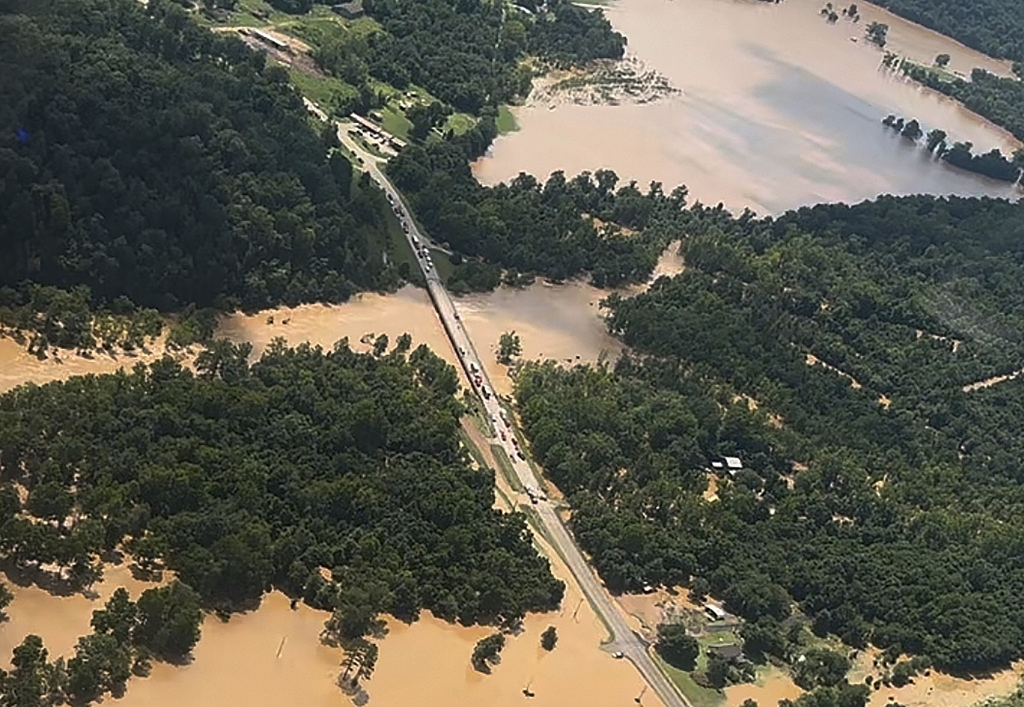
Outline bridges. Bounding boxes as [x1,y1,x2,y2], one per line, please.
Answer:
[422,273,504,401]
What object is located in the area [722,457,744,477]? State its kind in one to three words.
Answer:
building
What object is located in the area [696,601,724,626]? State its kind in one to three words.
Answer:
house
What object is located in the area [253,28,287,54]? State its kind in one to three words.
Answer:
barn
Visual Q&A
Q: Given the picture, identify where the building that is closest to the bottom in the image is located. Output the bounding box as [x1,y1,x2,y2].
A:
[700,642,744,672]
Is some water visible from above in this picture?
Yes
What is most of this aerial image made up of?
trees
